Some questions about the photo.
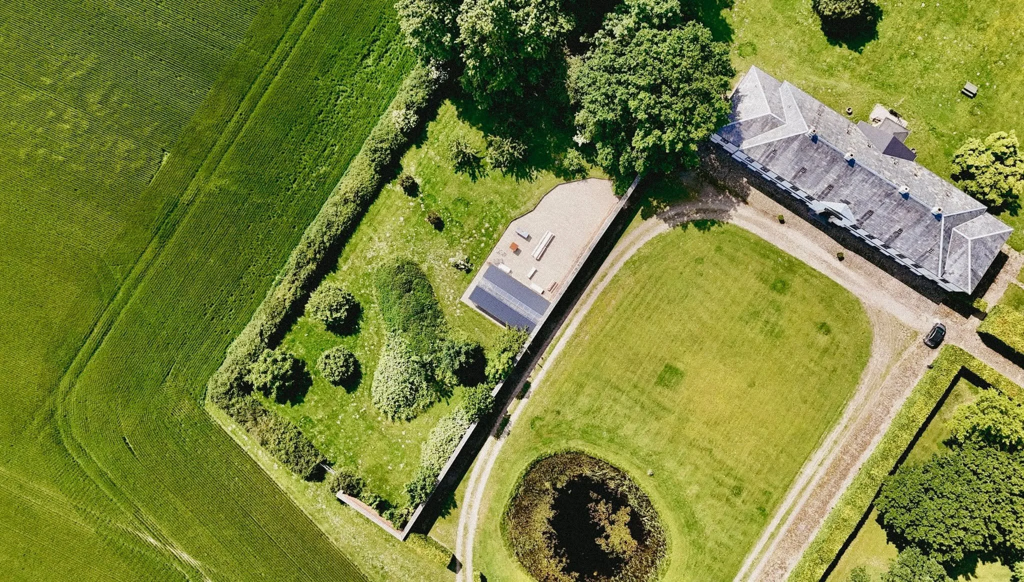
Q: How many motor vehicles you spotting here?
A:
1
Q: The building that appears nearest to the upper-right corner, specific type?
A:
house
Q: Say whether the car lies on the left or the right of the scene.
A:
right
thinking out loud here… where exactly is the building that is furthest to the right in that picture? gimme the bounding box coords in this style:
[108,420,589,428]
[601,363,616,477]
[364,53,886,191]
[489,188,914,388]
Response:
[702,65,1012,293]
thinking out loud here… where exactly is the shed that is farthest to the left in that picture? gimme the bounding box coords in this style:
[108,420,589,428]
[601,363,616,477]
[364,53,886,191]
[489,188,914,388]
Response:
[470,264,551,336]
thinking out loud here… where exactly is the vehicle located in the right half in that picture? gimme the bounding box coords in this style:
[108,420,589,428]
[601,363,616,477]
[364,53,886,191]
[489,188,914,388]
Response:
[922,323,947,350]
